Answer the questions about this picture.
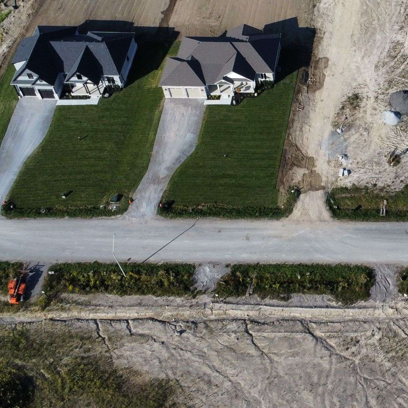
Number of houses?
2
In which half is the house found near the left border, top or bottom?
top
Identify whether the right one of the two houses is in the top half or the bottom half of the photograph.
top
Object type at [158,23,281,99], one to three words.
house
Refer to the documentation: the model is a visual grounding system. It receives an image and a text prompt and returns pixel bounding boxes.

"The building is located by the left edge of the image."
[6,22,138,99]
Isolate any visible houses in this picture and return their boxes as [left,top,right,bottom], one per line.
[6,22,138,99]
[158,23,281,99]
